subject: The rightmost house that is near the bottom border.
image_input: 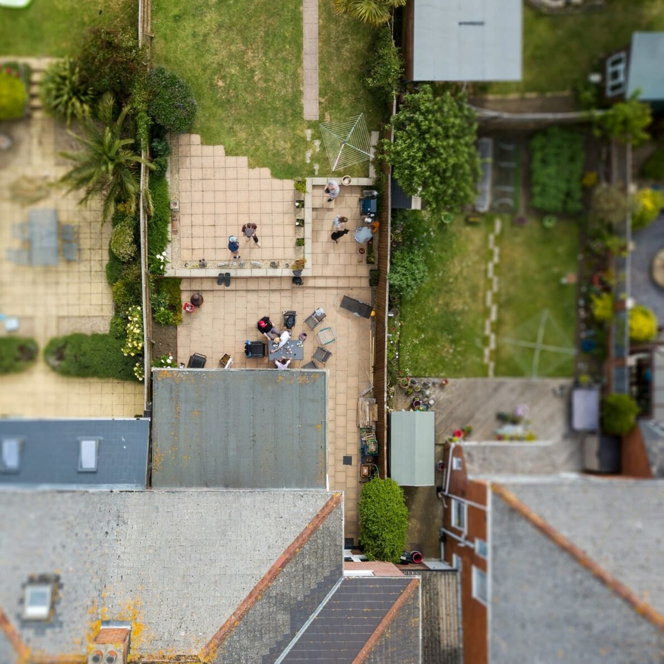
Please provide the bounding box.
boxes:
[444,436,664,664]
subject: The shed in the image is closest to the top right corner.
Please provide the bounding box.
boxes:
[606,32,664,100]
